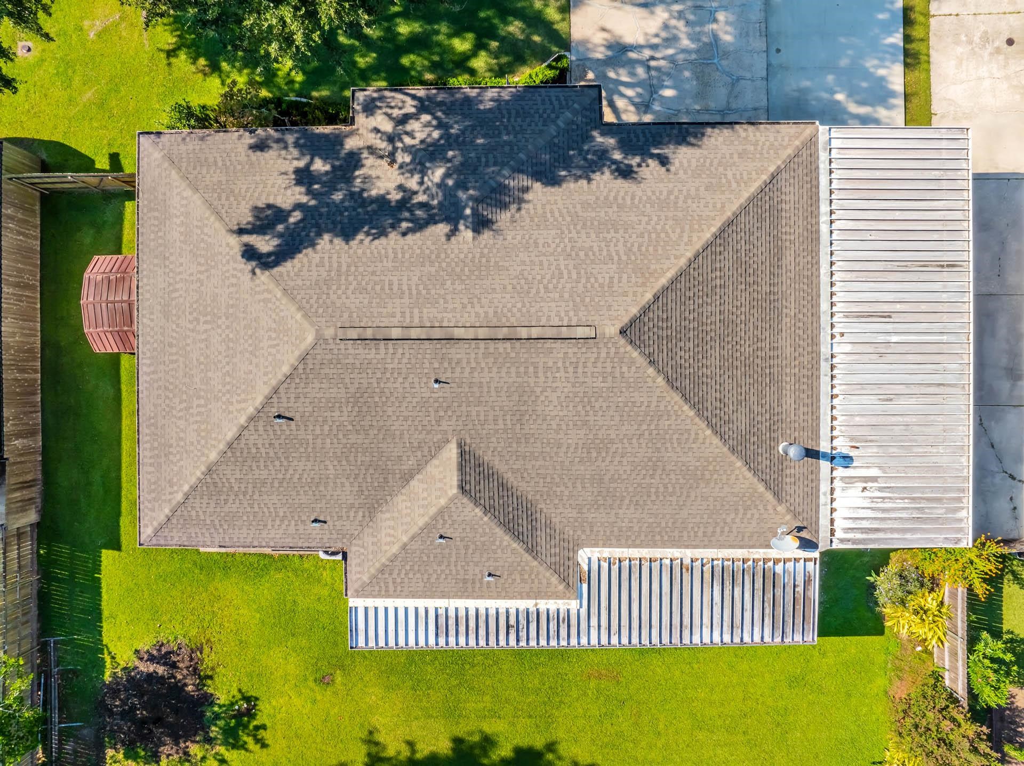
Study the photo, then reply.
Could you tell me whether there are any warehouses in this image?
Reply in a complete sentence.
No, no warehouse is visible in the scene.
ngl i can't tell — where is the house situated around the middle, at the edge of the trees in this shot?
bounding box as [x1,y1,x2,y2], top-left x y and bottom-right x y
[134,85,821,601]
